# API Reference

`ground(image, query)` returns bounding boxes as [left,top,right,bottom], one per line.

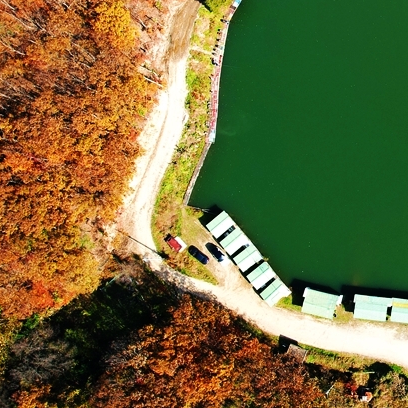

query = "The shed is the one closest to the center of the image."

[207,211,238,238]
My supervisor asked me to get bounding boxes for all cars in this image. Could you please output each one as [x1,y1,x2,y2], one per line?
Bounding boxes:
[165,234,183,253]
[185,243,212,268]
[202,239,227,265]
